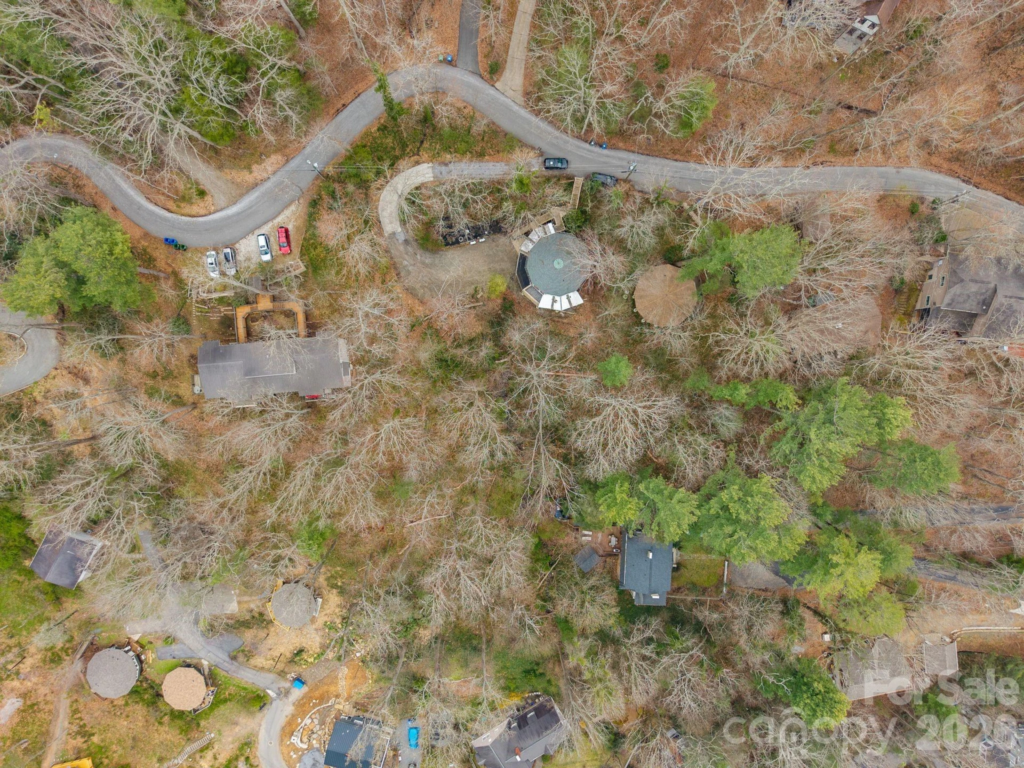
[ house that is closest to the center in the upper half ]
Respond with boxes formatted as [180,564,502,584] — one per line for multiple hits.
[516,222,591,314]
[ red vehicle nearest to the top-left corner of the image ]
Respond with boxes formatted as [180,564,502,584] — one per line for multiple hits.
[275,224,290,254]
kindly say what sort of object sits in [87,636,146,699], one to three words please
house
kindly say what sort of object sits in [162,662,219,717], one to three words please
house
